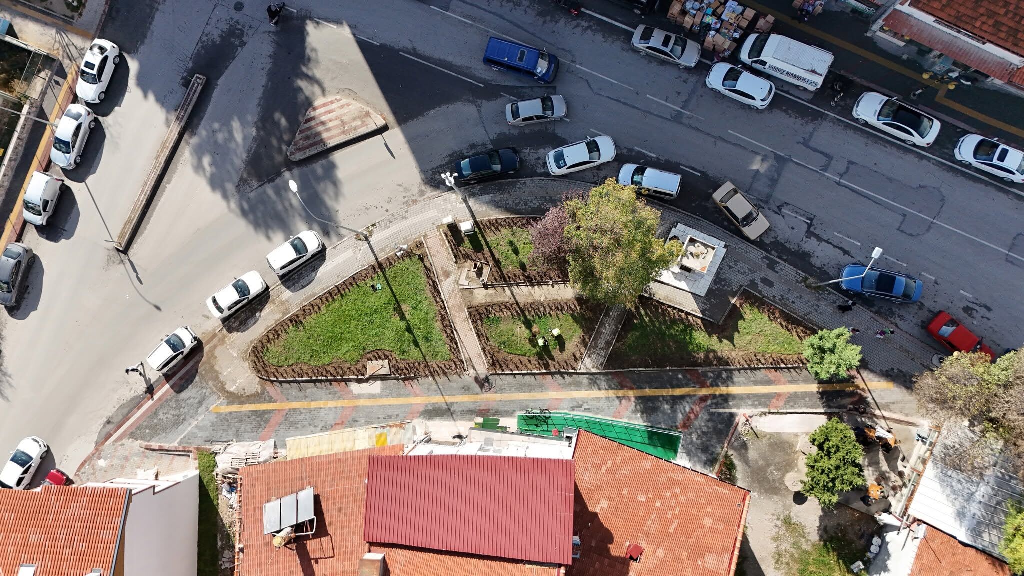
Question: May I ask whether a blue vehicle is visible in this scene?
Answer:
Yes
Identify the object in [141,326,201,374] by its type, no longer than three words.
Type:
car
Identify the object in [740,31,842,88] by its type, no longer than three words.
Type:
van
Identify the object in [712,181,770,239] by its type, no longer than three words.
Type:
car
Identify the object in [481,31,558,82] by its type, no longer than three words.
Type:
van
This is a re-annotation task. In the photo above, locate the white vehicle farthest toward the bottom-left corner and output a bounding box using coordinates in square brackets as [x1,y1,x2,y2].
[0,437,51,488]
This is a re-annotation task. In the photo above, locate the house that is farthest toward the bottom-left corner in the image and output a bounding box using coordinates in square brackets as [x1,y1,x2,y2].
[0,470,198,576]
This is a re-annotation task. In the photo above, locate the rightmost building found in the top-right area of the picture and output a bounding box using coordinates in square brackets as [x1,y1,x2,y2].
[881,0,1024,85]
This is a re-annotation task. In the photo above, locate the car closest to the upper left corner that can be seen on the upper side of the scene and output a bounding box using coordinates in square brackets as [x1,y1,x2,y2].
[77,39,122,104]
